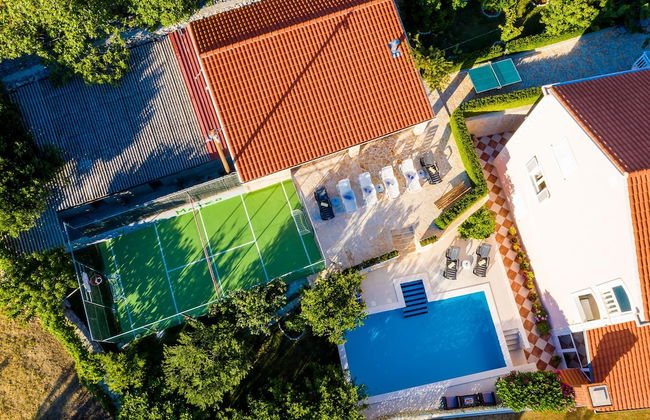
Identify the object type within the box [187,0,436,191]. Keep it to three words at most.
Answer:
house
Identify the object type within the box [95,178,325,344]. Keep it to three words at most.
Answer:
sports court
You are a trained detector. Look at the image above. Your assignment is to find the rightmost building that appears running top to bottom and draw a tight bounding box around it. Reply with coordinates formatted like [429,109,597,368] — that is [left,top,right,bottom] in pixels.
[491,65,650,414]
